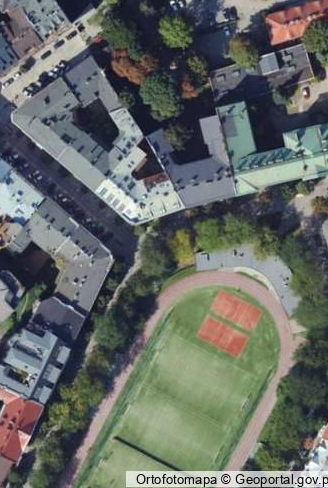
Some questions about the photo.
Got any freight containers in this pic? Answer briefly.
No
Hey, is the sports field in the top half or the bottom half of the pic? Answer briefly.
bottom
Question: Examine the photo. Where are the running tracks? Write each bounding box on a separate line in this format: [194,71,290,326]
[53,270,296,488]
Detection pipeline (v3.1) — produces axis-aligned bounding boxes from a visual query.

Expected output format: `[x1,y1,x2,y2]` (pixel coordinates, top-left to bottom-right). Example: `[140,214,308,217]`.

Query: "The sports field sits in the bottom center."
[66,278,285,488]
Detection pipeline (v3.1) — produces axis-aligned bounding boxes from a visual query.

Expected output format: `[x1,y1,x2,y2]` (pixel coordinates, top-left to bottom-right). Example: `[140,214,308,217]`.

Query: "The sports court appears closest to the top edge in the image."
[211,290,262,331]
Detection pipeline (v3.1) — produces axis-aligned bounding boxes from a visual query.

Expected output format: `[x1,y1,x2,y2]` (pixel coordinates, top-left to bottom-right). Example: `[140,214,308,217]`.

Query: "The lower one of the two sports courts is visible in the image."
[196,316,249,359]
